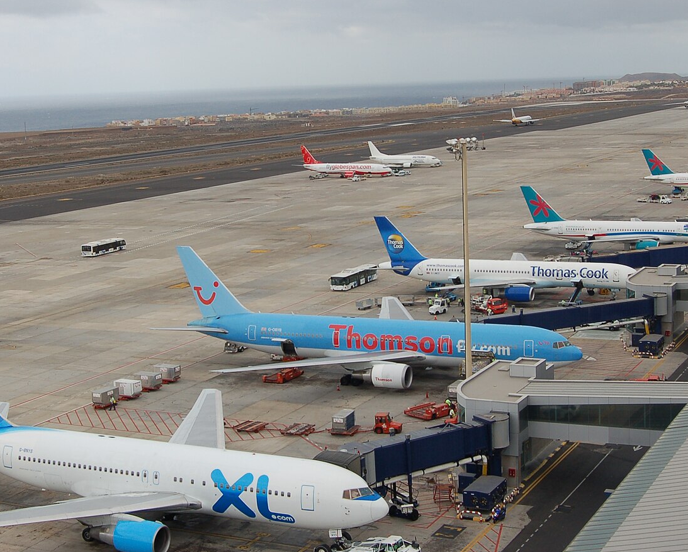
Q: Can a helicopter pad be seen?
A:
No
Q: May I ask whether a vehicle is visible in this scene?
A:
Yes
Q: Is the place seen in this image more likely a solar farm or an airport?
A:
airport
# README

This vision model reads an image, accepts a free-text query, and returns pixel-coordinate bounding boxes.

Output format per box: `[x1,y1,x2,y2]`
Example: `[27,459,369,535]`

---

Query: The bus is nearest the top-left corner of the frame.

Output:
[84,235,133,255]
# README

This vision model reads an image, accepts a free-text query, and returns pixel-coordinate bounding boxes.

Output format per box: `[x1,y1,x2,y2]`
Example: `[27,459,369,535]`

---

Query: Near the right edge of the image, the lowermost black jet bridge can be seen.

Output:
[452,291,671,335]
